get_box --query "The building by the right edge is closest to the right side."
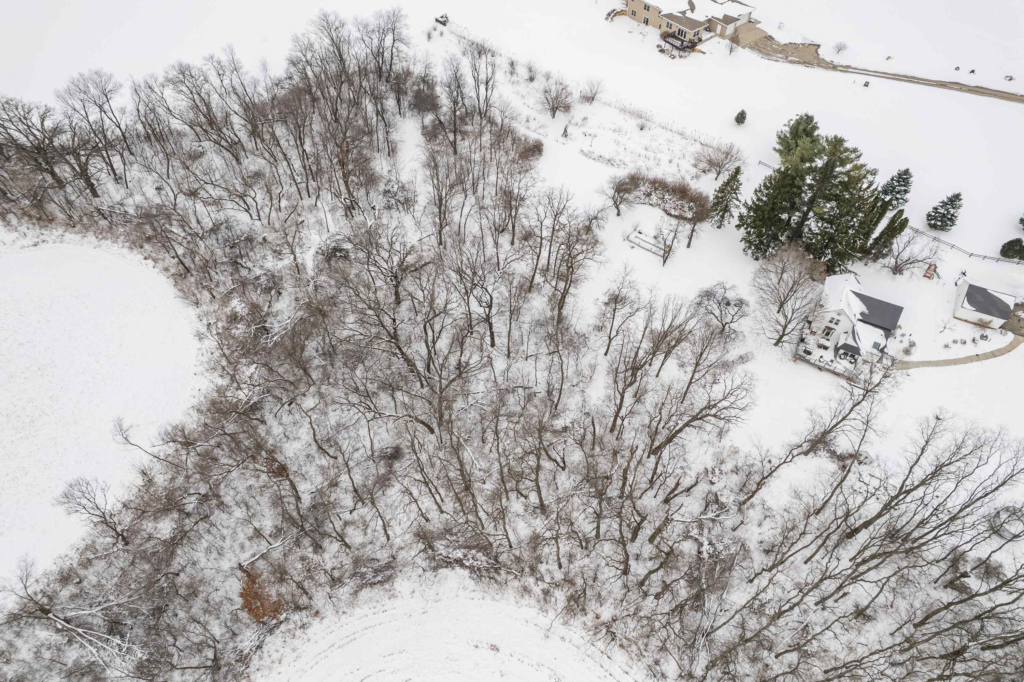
[954,274,1018,330]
